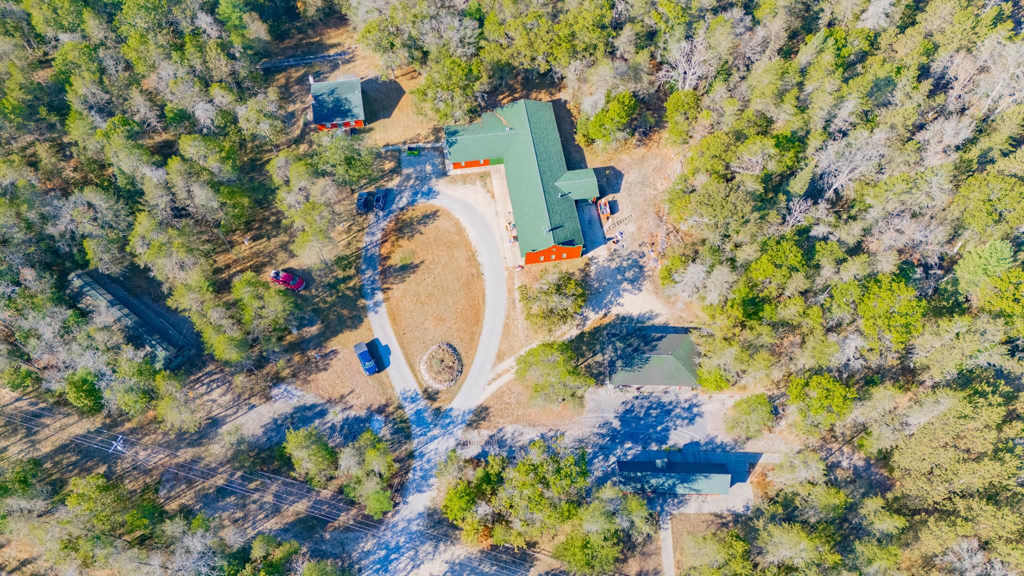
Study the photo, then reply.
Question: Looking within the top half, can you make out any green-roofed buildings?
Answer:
Yes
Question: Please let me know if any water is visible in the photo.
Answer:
No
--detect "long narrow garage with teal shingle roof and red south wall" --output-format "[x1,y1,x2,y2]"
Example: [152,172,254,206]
[616,460,731,496]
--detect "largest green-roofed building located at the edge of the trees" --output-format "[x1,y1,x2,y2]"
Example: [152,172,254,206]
[445,100,599,264]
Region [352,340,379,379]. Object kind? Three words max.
truck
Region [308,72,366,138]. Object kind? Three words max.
building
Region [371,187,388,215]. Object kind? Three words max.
car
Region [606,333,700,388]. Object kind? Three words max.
building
